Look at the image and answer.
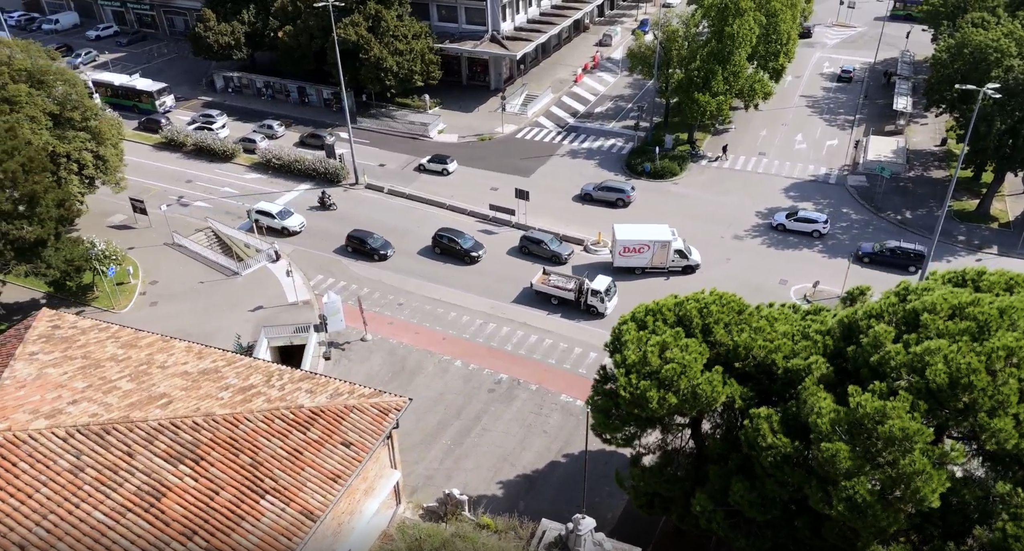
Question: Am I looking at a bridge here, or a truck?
truck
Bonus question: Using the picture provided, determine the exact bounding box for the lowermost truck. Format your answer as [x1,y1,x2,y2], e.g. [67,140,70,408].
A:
[526,262,620,317]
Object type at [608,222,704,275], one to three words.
truck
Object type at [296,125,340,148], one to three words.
car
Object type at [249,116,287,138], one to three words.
car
